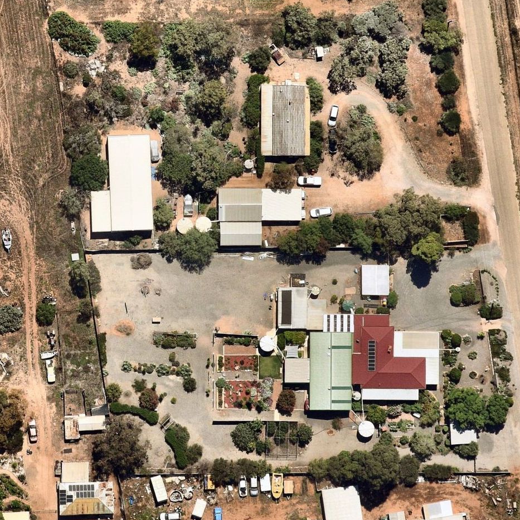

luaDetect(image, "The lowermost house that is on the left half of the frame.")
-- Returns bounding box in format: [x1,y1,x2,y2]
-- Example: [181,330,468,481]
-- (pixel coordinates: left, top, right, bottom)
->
[57,481,113,516]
